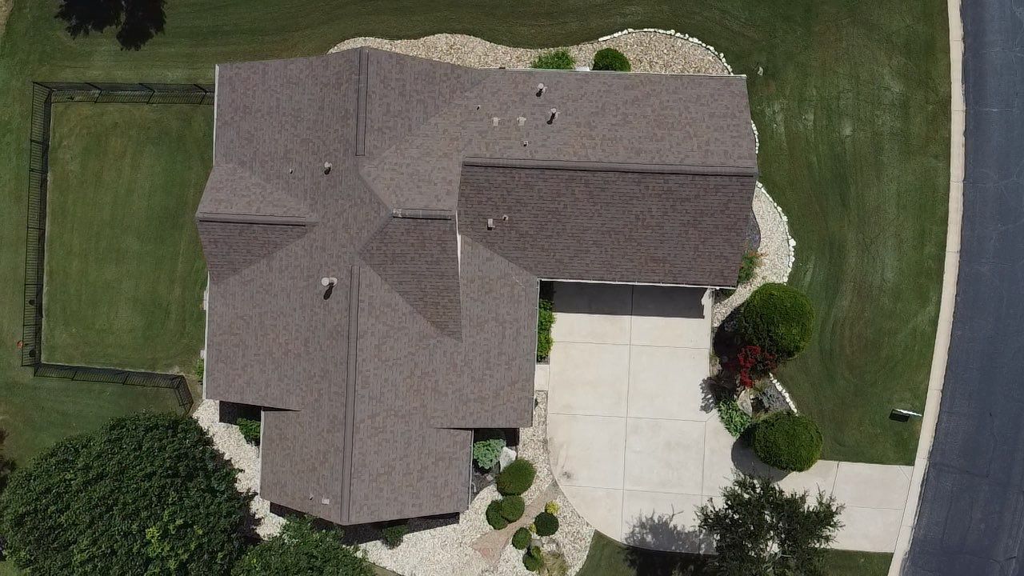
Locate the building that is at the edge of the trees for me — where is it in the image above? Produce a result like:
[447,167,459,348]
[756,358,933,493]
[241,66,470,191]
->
[195,46,762,525]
